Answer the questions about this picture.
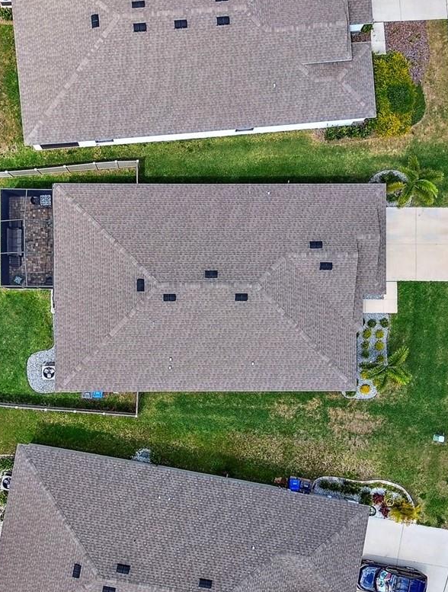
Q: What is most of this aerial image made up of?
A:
buildings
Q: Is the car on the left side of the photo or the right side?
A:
right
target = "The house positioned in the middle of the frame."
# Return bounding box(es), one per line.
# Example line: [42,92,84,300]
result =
[51,182,387,392]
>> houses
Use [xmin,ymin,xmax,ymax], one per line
[11,0,378,149]
[0,442,372,592]
[51,182,387,392]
